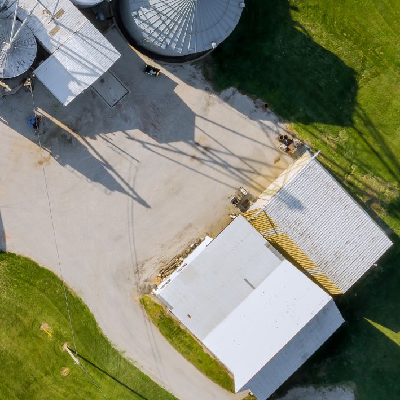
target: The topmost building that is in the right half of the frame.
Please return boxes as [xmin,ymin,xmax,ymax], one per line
[240,151,393,293]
